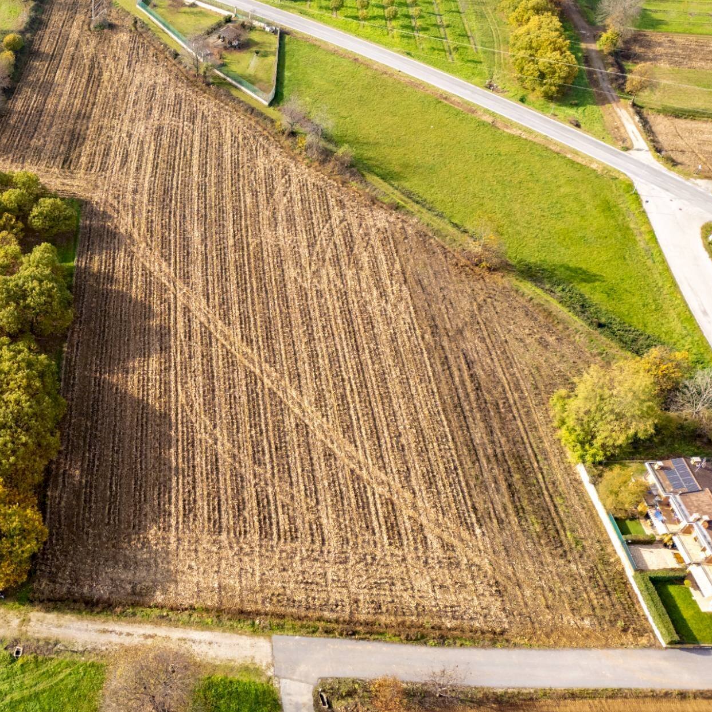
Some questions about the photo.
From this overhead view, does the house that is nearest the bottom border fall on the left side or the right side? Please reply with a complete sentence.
The house that is nearest the bottom border sits on the right side.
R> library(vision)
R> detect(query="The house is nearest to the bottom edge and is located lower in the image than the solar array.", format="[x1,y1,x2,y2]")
[689,556,712,600]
